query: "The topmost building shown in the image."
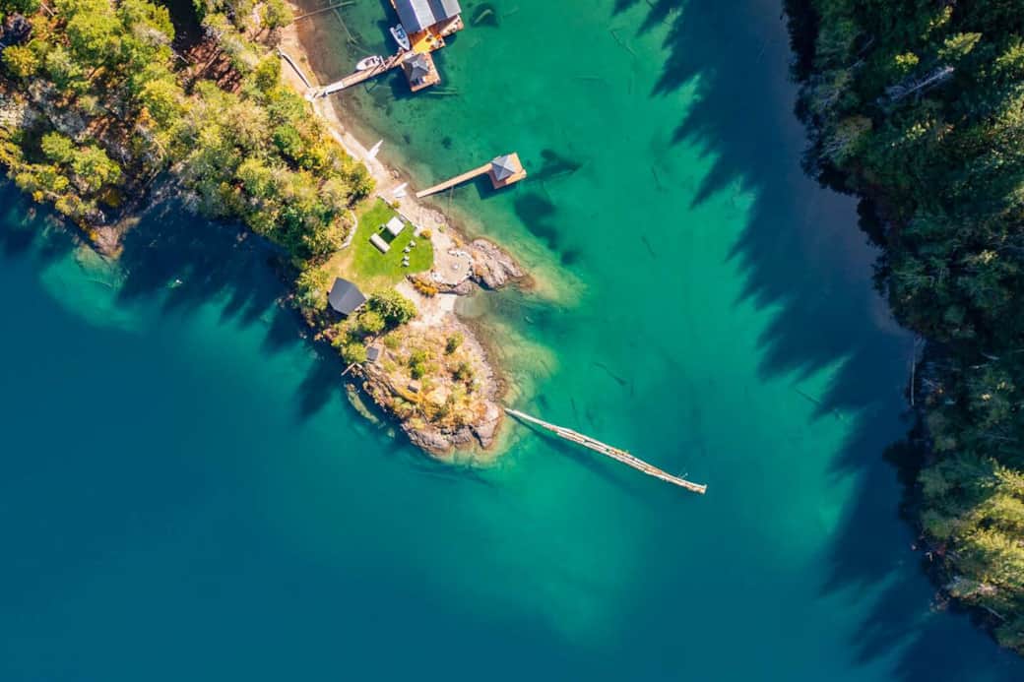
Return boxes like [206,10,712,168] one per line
[389,0,464,53]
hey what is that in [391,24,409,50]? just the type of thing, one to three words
boat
